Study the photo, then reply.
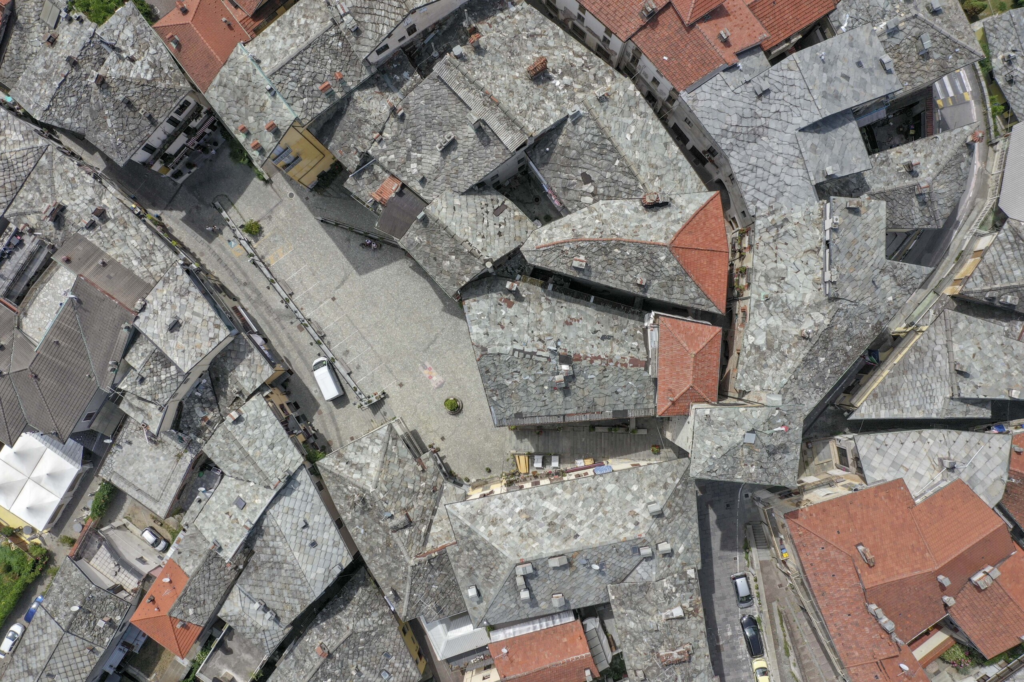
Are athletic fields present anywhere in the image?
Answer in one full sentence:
No, I find no athletic field anywhere in the image.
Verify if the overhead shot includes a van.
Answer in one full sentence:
Yes, this view includes a van.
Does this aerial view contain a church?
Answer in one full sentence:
Yes, there's a church down there.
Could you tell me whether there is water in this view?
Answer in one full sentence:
No, water can't be seen anywhere here.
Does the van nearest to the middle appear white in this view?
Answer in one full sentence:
Yes, the van nearest to the middle is white.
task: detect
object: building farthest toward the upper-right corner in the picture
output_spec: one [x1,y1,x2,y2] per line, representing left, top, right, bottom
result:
[974,6,1024,130]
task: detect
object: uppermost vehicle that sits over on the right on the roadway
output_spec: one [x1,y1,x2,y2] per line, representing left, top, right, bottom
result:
[728,570,754,609]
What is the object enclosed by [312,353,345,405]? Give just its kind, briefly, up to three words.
van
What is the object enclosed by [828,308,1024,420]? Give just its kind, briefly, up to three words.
house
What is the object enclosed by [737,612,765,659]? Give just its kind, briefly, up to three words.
car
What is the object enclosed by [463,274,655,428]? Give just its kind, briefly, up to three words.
church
